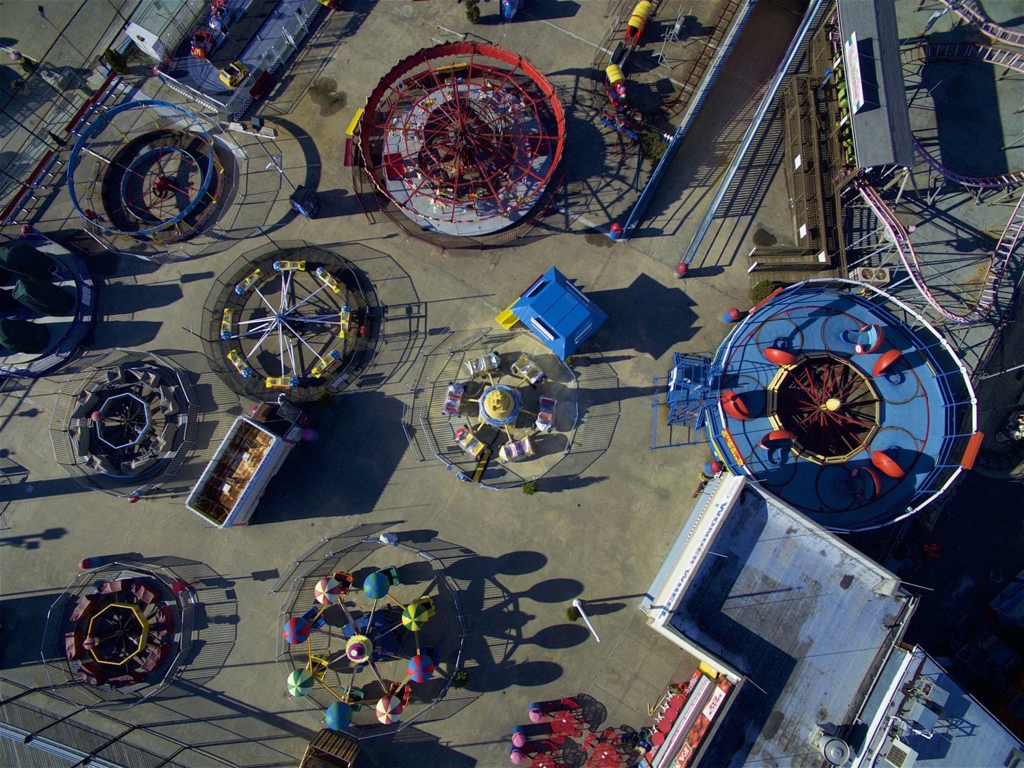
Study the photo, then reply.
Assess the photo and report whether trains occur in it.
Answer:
Yes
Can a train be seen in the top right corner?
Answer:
Yes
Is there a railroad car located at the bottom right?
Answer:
No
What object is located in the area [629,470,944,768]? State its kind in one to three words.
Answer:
building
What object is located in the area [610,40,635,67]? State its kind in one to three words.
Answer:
rail car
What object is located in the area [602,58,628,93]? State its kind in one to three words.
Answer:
rail car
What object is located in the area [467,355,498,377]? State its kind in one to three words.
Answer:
car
